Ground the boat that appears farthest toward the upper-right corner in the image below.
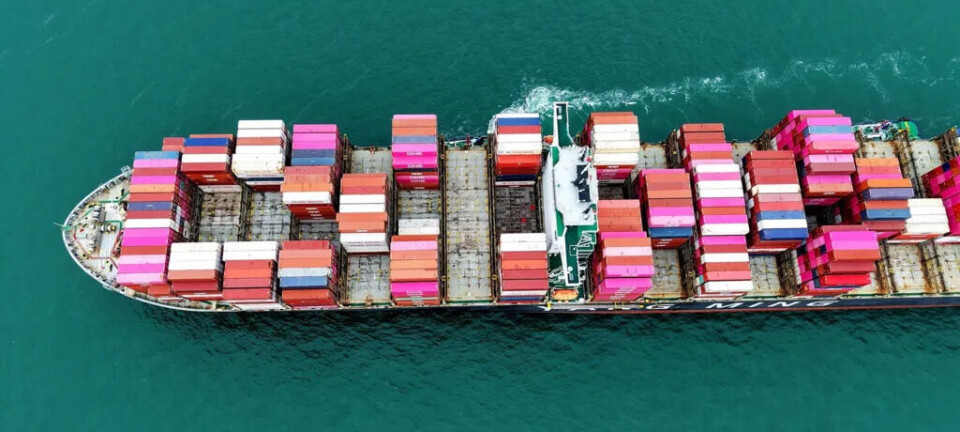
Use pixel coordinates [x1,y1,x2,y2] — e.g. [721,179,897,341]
[851,119,921,140]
